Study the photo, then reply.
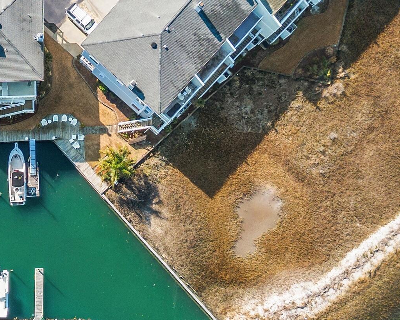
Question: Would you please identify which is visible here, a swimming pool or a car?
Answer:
car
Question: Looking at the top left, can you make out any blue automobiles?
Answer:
No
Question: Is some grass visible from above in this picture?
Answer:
Yes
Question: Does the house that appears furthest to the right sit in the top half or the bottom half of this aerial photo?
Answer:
top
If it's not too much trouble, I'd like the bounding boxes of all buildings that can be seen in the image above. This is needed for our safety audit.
[0,0,46,120]
[75,0,314,140]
